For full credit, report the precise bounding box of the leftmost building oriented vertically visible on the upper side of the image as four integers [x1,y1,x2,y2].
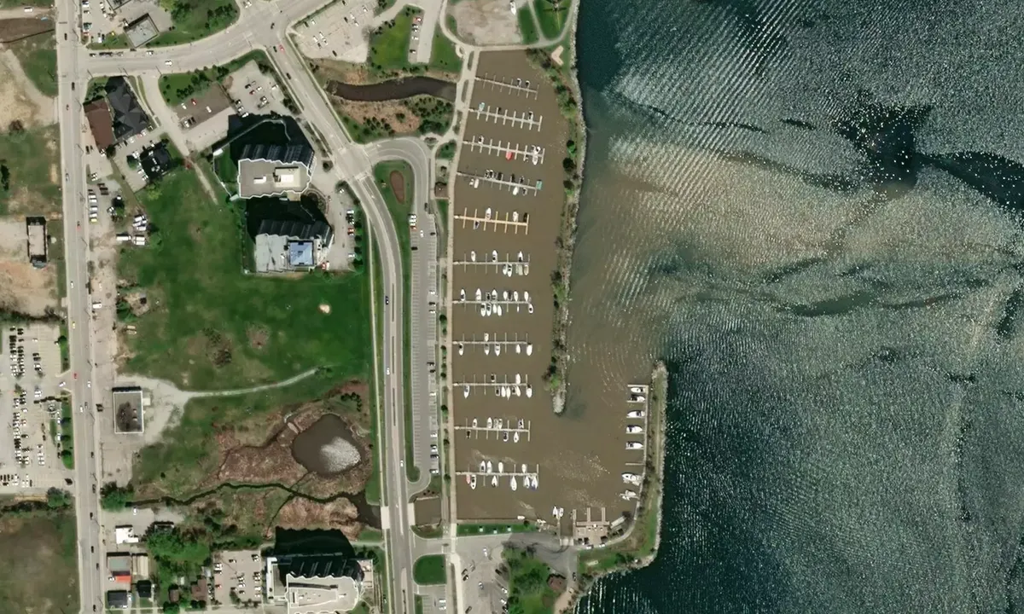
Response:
[27,218,49,269]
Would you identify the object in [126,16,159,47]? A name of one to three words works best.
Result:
building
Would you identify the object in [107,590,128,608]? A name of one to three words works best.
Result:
house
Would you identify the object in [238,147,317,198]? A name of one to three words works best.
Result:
building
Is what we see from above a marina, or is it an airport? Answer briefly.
marina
